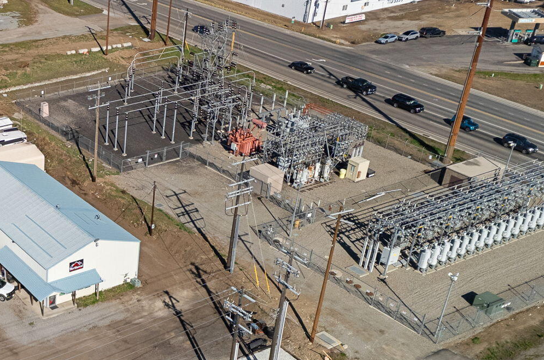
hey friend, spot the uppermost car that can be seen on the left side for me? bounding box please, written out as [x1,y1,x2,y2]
[191,21,214,34]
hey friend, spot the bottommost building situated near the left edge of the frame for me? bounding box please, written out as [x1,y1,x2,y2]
[0,161,144,328]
